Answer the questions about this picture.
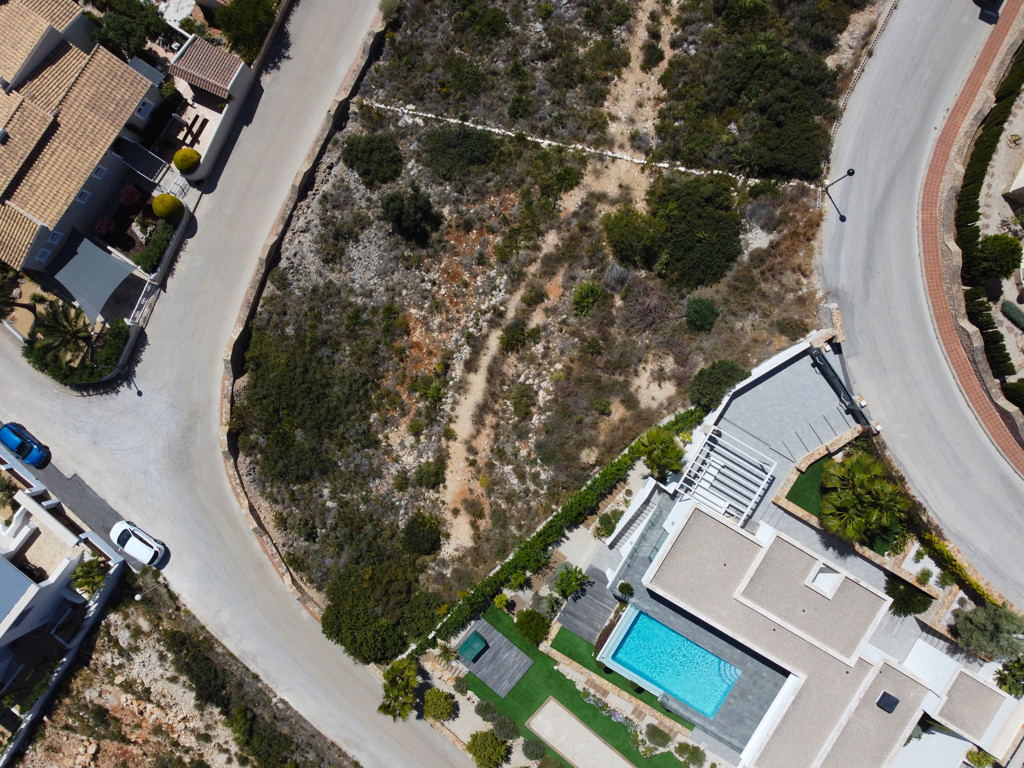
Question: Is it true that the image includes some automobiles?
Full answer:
Yes, there's an automobile here.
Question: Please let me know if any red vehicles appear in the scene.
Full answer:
No, there appears to be no red vehicle in this shot.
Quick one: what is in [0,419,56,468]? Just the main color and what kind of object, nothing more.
blue car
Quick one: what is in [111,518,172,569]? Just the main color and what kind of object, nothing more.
white car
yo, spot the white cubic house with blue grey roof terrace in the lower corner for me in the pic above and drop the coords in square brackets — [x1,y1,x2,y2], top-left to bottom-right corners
[0,548,95,655]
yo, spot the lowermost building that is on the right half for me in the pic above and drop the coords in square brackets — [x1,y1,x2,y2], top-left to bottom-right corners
[642,492,1024,768]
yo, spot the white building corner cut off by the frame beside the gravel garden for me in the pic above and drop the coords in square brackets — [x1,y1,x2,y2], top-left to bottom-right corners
[989,162,1024,202]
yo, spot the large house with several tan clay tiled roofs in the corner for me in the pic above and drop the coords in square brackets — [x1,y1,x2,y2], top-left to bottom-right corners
[0,0,169,274]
